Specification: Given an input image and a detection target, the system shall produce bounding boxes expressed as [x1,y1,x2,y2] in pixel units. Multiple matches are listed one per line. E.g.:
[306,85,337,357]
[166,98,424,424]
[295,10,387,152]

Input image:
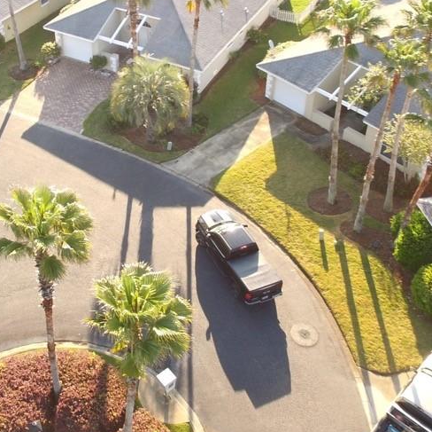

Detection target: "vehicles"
[367,361,432,432]
[195,214,285,311]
